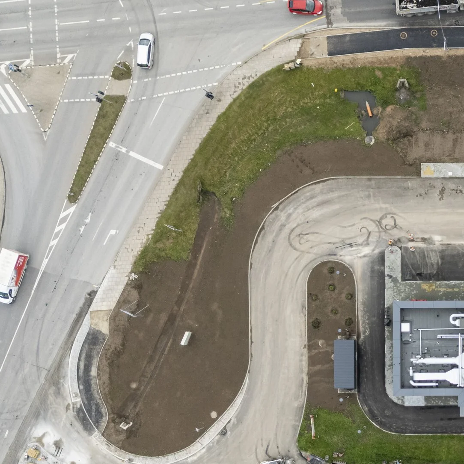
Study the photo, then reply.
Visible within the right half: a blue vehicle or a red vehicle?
red vehicle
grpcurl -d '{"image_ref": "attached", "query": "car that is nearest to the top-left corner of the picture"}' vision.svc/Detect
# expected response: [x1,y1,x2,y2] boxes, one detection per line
[136,33,158,71]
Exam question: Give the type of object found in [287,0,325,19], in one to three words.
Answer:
car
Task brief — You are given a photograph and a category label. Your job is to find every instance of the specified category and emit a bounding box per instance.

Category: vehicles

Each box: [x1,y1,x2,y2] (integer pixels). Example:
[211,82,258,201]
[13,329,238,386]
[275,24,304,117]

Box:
[396,0,464,19]
[260,455,296,464]
[0,247,26,304]
[287,0,325,19]
[136,33,158,71]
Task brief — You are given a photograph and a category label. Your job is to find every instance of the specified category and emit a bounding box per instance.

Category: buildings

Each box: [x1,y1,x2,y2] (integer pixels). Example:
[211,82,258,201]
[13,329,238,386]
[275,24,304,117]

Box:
[334,340,357,388]
[393,300,464,417]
